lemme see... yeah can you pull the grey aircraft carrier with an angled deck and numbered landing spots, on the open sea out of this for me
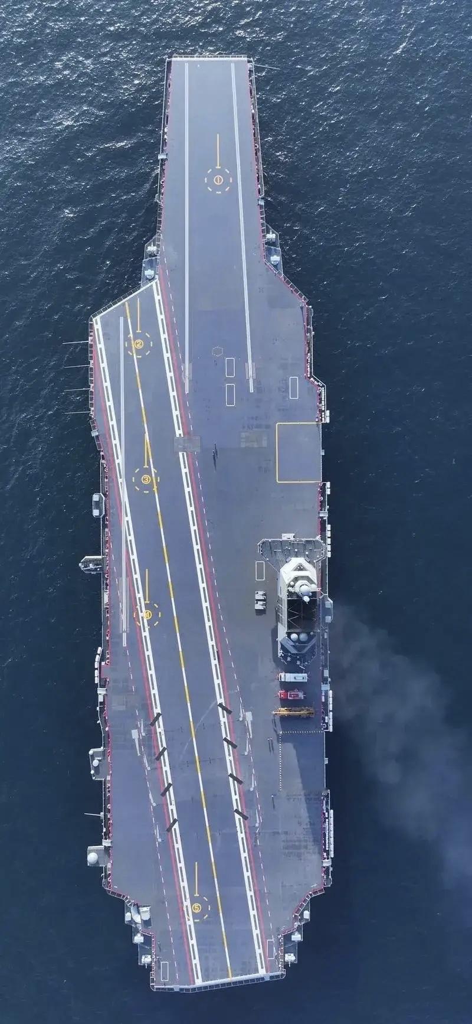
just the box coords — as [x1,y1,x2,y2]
[64,55,334,992]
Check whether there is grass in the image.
No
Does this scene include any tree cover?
No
